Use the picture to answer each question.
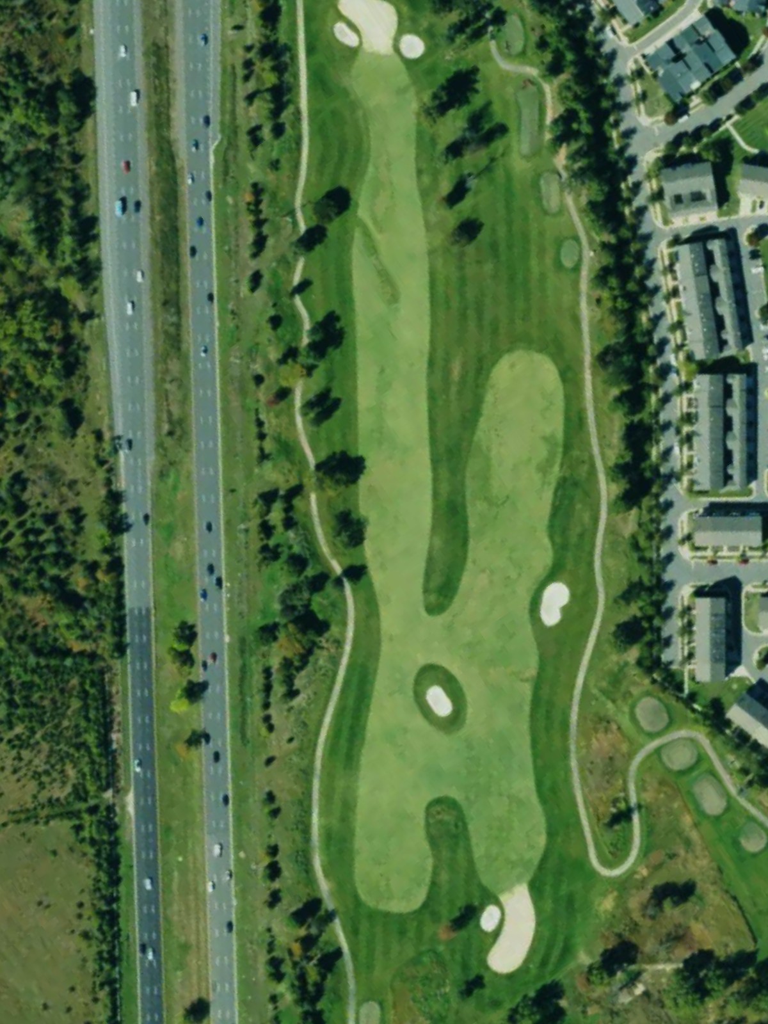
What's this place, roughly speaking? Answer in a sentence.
It's a golf course.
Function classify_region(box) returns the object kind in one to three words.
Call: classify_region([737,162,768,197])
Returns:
house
